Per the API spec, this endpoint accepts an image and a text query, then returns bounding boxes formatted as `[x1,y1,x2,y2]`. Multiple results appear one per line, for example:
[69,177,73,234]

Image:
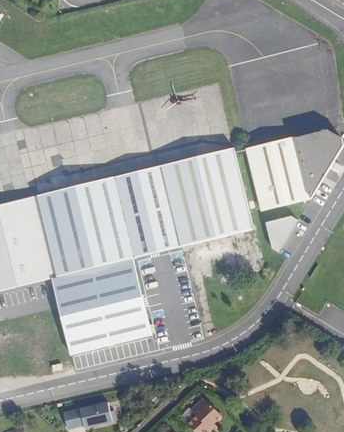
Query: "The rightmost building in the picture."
[294,128,344,199]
